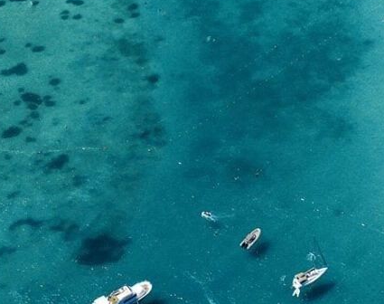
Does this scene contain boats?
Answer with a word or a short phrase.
Yes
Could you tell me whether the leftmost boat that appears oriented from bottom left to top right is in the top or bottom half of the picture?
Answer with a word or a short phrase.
bottom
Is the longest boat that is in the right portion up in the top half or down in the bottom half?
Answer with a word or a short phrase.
bottom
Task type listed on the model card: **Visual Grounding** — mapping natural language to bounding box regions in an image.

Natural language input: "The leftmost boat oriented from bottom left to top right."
[237,228,261,250]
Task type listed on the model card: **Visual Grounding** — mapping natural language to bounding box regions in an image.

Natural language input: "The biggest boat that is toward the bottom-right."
[291,233,326,290]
